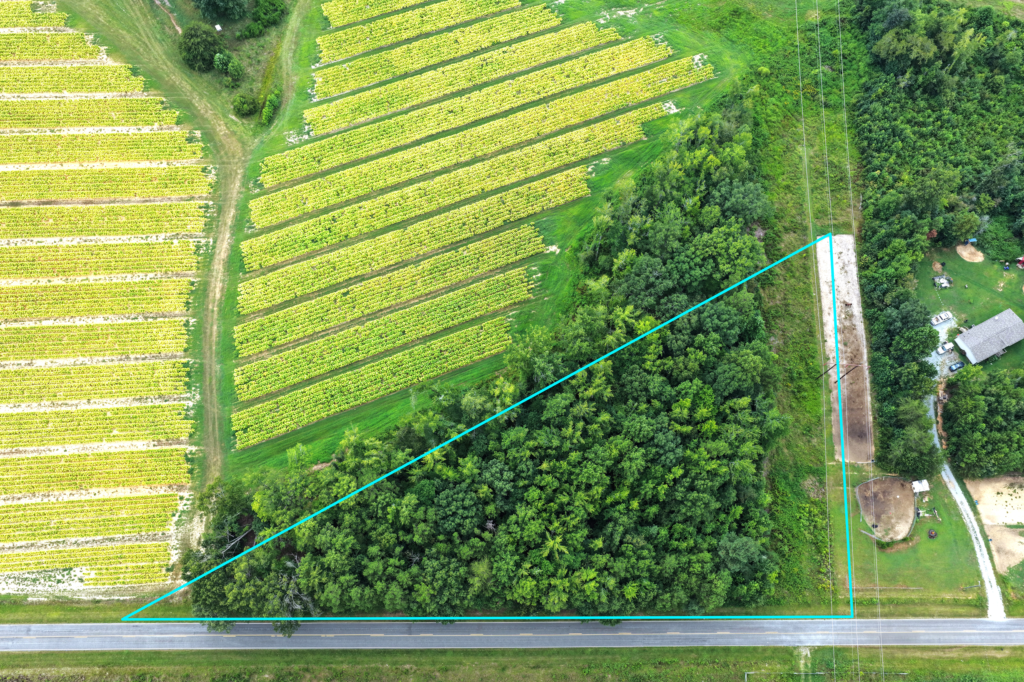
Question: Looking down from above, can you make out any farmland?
Yes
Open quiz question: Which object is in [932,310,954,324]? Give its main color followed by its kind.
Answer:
white vehicle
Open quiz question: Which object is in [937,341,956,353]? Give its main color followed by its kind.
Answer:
white vehicle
